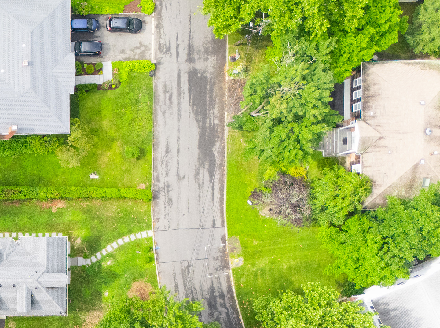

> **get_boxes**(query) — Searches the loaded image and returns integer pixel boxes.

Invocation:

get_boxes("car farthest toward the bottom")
[71,38,102,57]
